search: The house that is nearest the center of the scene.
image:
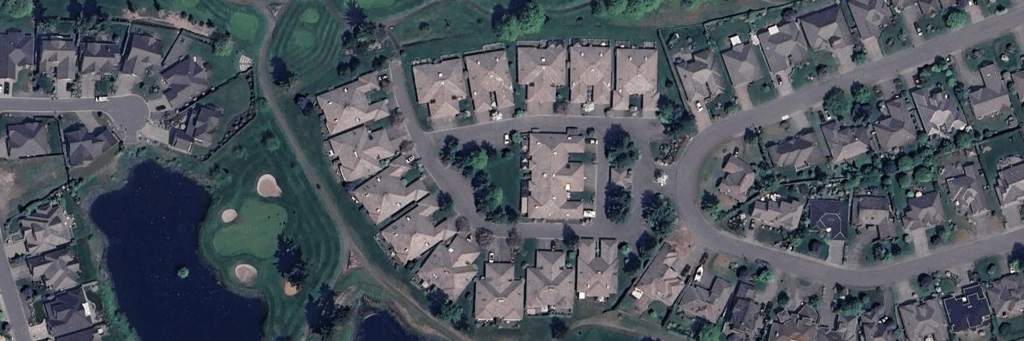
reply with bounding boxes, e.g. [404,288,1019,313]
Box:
[529,132,585,222]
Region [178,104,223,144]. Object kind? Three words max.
house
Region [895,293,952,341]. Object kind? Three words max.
house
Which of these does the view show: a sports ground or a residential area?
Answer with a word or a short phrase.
residential area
